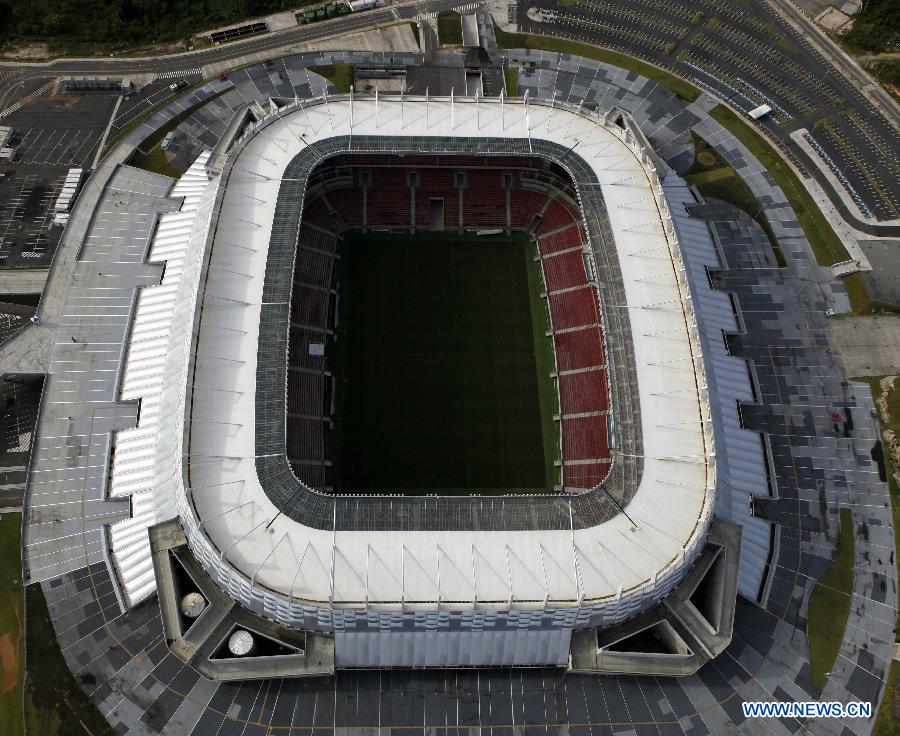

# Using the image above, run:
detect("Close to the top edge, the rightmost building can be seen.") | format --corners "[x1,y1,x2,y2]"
[813,1,854,30]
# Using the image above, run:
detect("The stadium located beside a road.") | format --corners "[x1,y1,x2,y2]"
[104,78,773,684]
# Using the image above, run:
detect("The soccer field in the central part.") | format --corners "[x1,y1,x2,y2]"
[323,233,564,497]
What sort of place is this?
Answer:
sports ground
